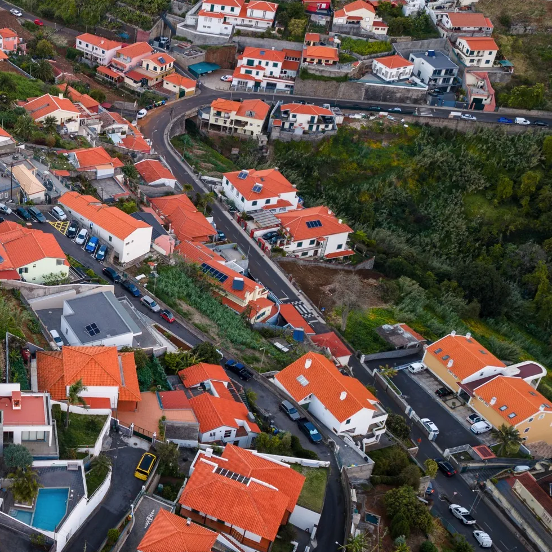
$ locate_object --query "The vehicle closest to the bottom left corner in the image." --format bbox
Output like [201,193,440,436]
[135,452,156,479]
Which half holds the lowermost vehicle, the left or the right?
right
